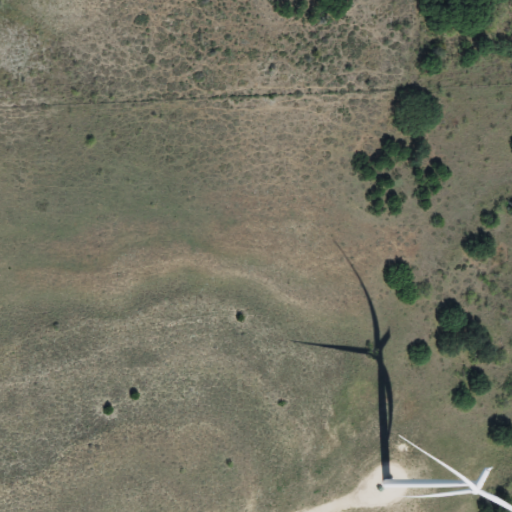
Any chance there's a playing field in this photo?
No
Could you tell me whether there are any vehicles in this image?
No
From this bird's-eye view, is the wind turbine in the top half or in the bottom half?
bottom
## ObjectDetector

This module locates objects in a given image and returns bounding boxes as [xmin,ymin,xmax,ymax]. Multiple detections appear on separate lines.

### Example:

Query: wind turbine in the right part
[380,434,512,508]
